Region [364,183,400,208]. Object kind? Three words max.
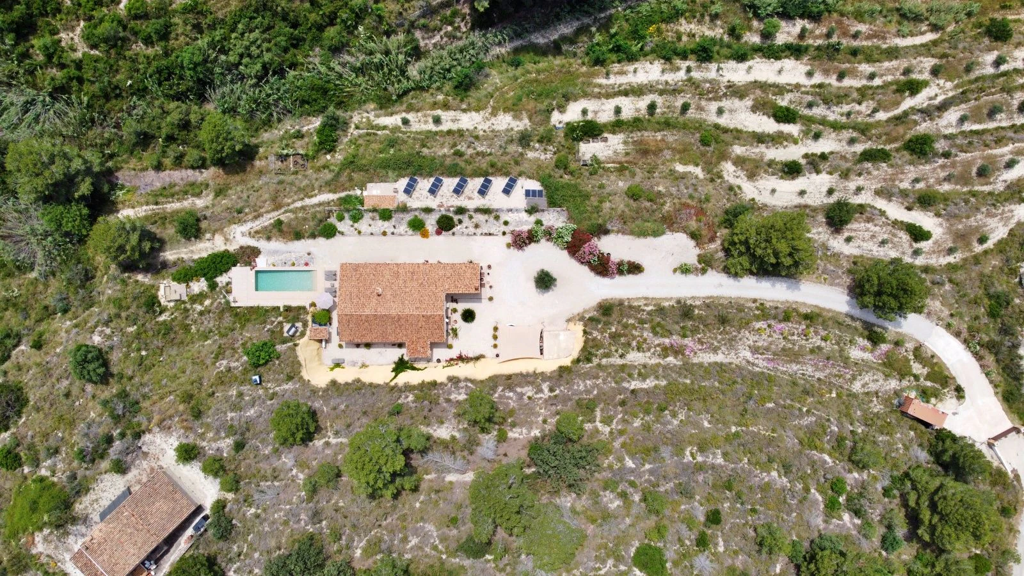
shed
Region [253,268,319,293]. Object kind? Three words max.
swimming pool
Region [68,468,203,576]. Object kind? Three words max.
house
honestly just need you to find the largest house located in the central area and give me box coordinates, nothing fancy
[337,263,480,358]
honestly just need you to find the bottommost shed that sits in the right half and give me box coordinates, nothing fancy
[893,394,948,428]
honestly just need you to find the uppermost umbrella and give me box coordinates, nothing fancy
[317,293,333,309]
